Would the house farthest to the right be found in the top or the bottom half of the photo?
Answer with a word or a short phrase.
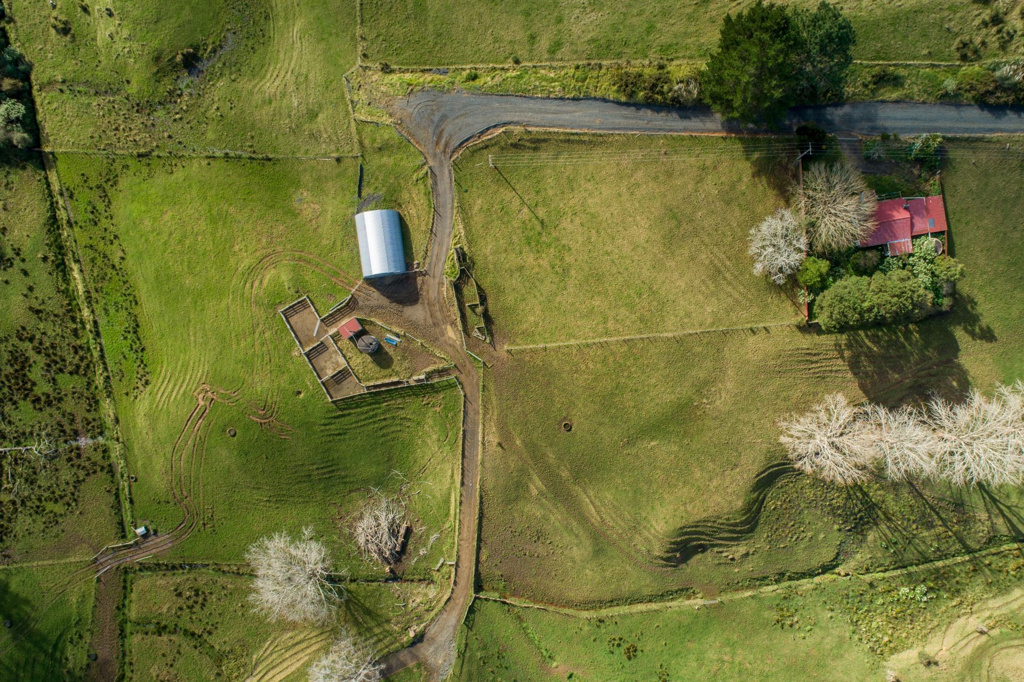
top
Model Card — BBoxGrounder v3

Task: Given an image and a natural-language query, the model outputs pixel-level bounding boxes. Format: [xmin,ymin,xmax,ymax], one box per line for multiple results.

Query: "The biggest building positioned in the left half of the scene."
[356,209,406,278]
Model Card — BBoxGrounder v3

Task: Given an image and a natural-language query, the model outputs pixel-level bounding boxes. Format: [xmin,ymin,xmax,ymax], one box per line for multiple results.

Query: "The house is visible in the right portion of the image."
[849,191,948,256]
